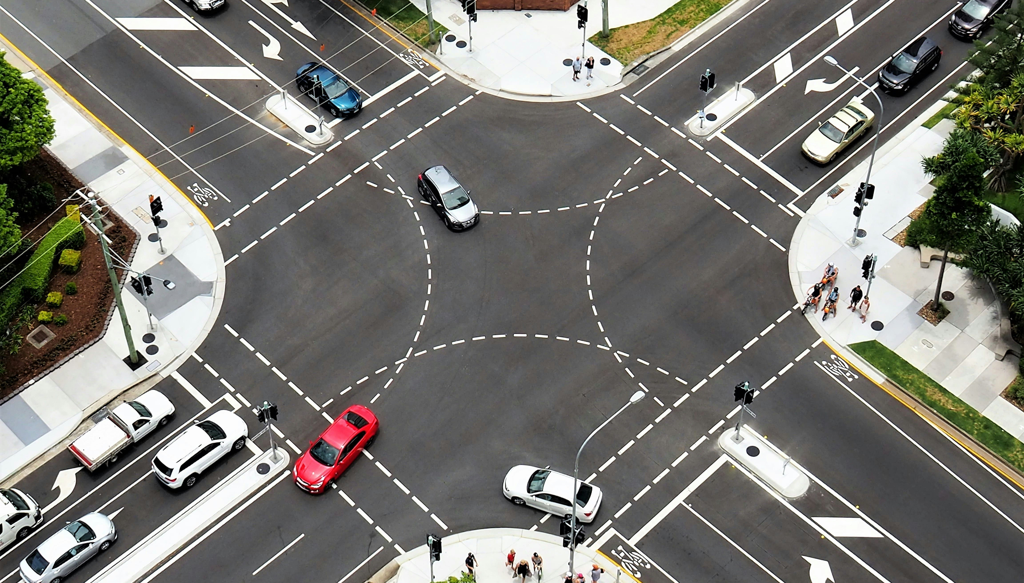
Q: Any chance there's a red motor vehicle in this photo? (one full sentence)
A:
Yes, I can see a red motor vehicle in this picture.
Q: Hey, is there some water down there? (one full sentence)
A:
No, there is no water in the image.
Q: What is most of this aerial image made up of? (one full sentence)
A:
The bulk of the photo consists of paved ground.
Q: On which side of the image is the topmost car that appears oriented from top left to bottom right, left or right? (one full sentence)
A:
The topmost car that appears oriented from top left to bottom right appears in the left half of the scene.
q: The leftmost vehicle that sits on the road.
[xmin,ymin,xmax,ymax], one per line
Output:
[0,494,40,552]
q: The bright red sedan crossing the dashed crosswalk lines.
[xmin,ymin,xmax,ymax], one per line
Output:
[293,409,378,494]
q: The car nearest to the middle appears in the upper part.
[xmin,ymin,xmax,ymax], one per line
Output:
[417,164,479,230]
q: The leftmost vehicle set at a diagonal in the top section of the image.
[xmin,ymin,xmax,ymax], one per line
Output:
[292,59,365,118]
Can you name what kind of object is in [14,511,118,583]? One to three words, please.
car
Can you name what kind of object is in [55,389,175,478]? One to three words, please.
truck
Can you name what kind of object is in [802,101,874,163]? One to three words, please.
car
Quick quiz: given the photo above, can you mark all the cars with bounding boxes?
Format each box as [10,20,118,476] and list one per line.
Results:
[151,409,249,492]
[14,511,118,583]
[186,0,226,12]
[949,0,1014,39]
[293,409,378,494]
[876,34,946,94]
[500,464,605,523]
[802,101,874,163]
[417,164,479,230]
[292,59,365,118]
